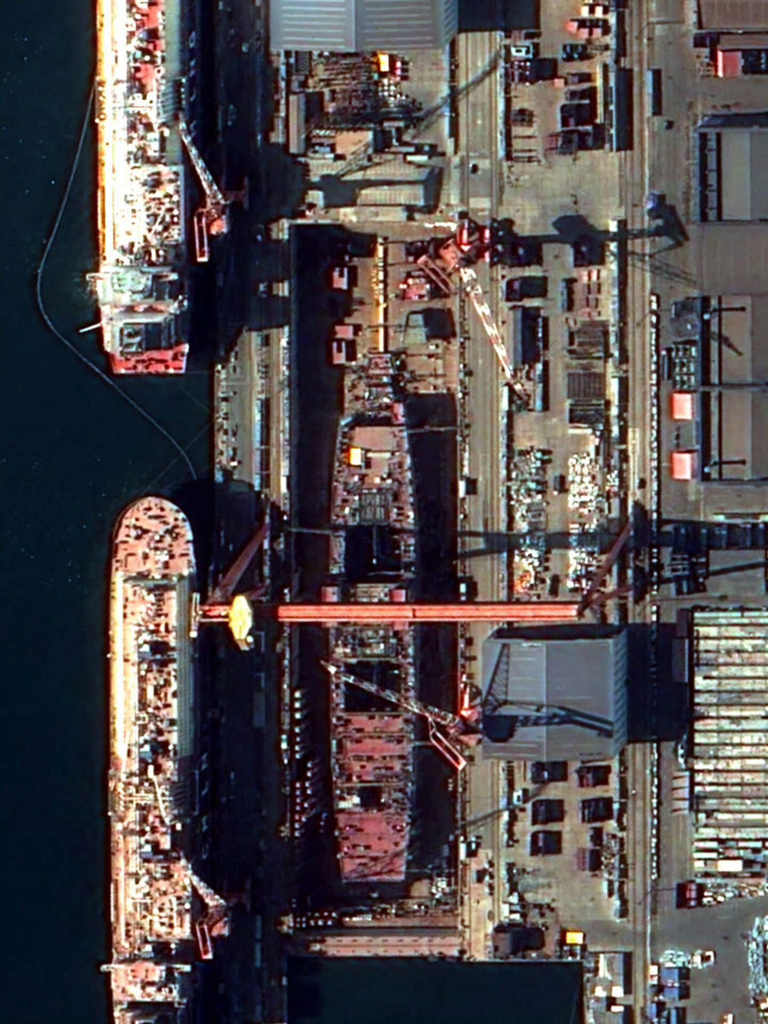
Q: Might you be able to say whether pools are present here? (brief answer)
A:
No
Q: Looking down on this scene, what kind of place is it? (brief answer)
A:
port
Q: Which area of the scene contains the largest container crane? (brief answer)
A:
center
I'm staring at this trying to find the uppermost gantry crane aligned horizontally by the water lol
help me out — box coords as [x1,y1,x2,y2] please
[191,512,632,649]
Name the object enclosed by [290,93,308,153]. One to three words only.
shed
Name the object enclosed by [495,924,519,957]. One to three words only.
building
